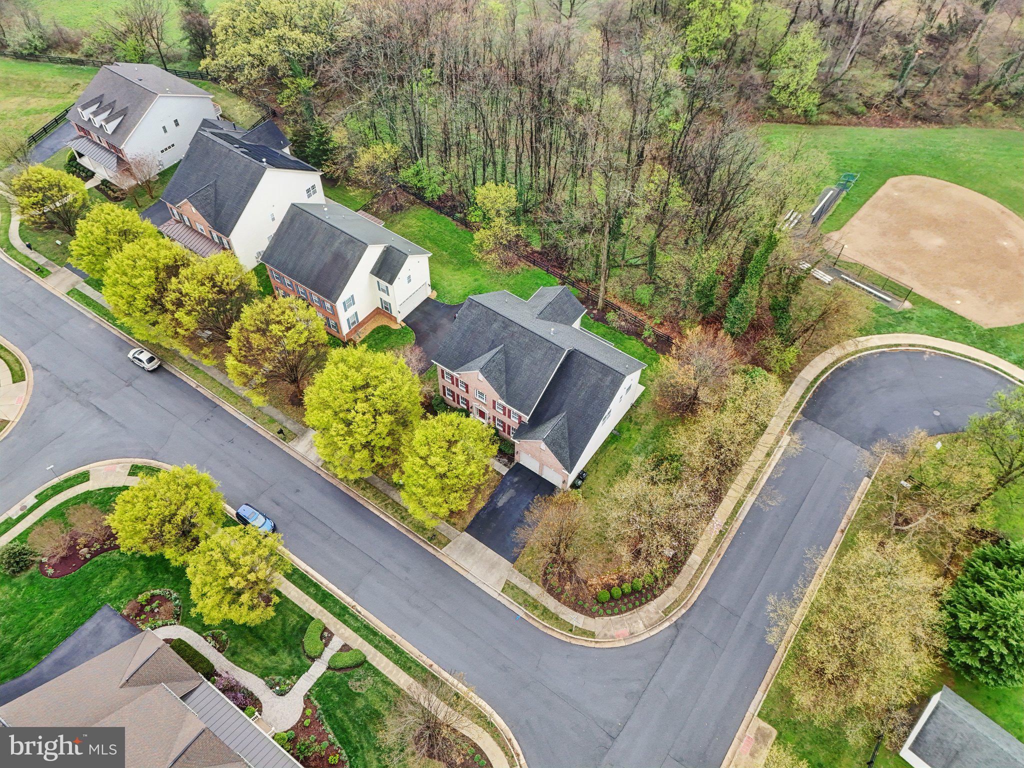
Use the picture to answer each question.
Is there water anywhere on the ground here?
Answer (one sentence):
No, water can't be seen anywhere here.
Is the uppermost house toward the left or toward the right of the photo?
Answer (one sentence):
The uppermost house appears in the left half of the scene.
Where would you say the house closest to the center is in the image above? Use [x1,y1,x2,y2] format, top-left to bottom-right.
[430,285,648,493]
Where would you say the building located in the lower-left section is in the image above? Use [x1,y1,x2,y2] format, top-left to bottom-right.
[0,627,306,768]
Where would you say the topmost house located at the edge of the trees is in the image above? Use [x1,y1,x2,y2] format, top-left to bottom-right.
[64,59,242,191]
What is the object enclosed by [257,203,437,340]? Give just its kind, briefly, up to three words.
house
